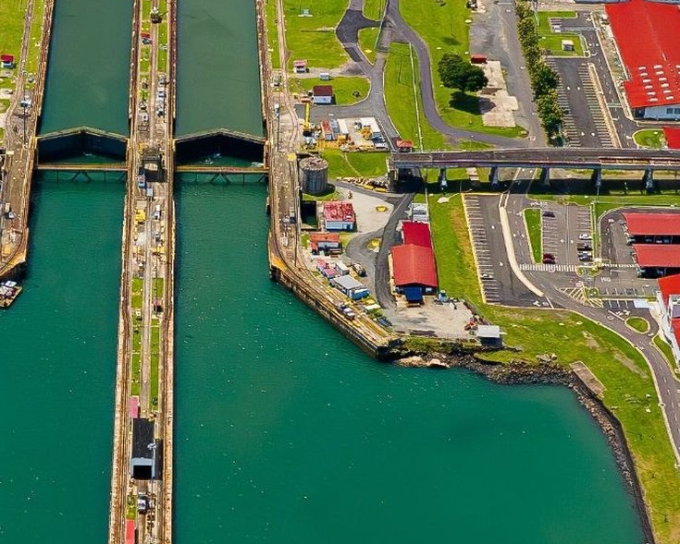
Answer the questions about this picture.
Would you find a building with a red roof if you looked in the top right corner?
Yes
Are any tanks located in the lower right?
No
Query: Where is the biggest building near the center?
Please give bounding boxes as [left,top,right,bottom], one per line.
[382,239,441,300]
